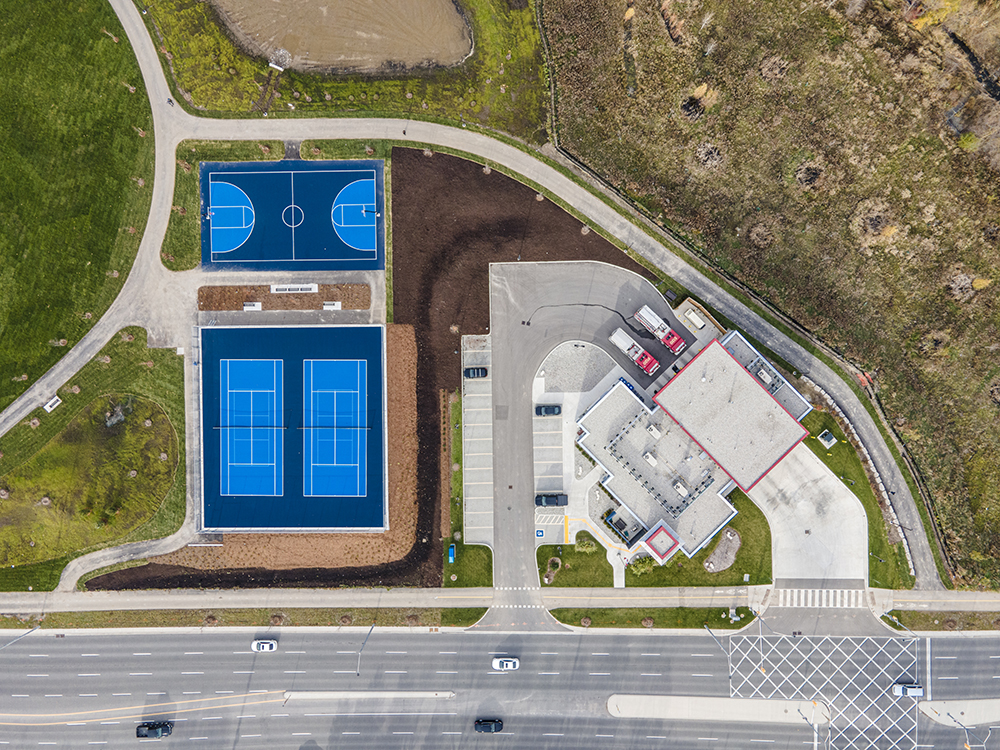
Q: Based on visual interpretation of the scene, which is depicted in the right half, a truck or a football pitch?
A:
truck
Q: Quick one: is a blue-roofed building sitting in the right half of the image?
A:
No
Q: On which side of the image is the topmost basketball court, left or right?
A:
left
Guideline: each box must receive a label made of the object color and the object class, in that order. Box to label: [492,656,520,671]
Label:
white car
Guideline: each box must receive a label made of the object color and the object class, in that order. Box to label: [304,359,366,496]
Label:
blue tennis court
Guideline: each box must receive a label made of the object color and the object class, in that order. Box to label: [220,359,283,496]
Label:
blue tennis court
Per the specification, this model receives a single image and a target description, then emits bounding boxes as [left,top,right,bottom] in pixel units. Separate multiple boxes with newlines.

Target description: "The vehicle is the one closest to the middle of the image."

[462,366,488,379]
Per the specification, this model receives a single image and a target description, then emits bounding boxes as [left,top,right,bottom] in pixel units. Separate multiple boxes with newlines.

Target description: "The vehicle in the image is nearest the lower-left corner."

[137,722,173,738]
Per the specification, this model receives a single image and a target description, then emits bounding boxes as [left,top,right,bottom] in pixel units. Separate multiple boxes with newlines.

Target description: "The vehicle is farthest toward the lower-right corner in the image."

[892,683,925,698]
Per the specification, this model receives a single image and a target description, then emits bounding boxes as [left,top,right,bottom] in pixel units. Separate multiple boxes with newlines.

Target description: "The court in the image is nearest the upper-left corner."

[199,159,384,271]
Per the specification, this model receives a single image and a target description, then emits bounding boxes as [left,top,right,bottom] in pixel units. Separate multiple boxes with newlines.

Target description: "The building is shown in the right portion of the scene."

[573,330,814,566]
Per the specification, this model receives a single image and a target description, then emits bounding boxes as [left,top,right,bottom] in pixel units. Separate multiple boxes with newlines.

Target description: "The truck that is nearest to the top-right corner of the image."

[633,306,684,354]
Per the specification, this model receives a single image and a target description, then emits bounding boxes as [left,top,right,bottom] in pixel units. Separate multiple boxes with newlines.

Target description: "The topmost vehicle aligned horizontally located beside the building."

[534,404,562,417]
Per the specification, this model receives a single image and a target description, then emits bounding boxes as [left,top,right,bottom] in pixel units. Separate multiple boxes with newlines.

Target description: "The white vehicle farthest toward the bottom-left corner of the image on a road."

[251,639,278,653]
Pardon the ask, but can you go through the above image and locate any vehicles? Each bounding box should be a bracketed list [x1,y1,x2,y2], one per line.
[251,639,278,653]
[633,306,684,354]
[475,718,502,733]
[892,683,925,698]
[492,656,520,671]
[607,330,658,378]
[535,493,568,508]
[462,366,488,379]
[137,722,173,738]
[534,404,562,417]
